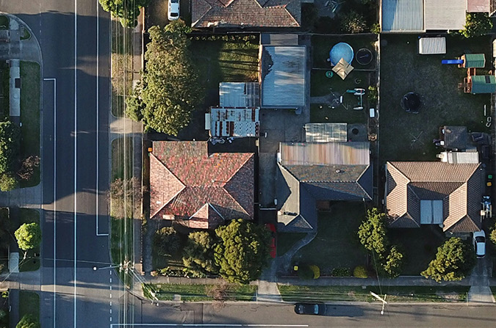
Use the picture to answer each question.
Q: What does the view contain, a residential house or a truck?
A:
residential house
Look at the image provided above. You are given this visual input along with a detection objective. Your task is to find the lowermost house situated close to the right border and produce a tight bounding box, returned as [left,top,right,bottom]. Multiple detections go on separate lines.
[383,160,484,233]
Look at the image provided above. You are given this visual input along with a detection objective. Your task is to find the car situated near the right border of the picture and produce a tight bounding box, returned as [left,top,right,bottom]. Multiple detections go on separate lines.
[471,233,486,259]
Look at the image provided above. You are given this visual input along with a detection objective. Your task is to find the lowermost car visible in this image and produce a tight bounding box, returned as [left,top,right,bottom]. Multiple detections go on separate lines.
[292,302,326,317]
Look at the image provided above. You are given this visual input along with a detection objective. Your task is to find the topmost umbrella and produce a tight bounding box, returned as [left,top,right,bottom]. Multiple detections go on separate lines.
[331,57,352,79]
